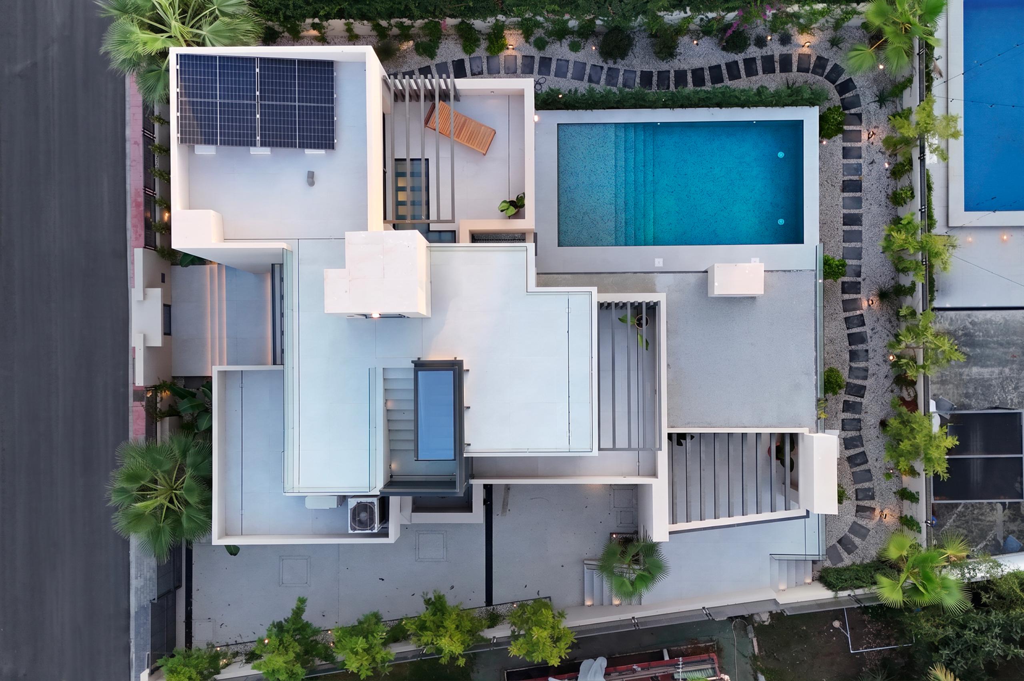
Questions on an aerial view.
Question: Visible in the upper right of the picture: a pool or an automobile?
pool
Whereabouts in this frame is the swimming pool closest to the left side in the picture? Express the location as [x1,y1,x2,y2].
[557,121,804,248]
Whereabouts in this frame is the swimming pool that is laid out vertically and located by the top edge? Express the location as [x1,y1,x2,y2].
[945,0,1024,228]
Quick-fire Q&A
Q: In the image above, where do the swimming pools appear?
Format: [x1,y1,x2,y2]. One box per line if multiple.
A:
[945,0,1024,228]
[557,121,804,248]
